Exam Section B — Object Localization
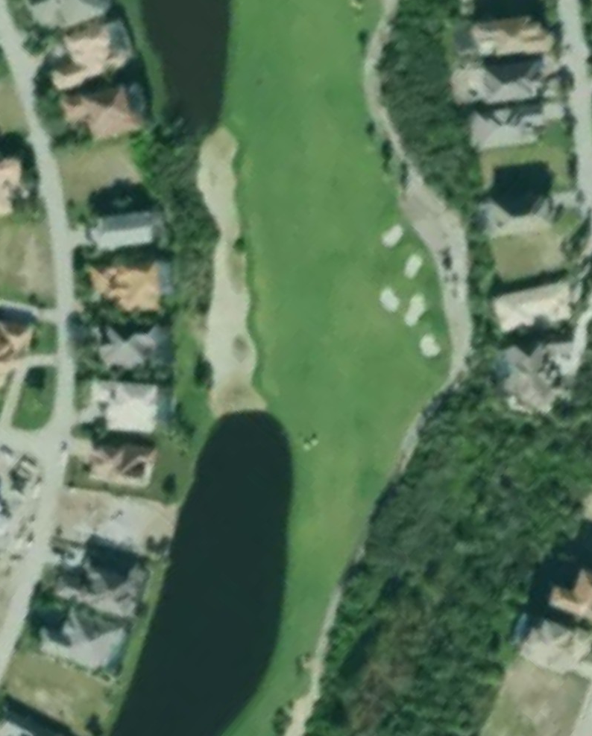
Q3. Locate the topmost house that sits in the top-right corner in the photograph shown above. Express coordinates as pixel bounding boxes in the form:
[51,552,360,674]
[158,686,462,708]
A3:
[477,17,557,62]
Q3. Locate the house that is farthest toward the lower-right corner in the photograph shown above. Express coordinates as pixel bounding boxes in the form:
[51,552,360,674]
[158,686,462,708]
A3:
[516,613,592,682]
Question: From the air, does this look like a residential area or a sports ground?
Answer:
residential area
